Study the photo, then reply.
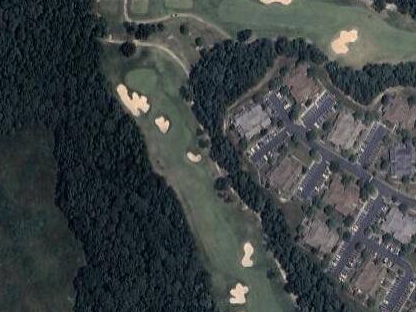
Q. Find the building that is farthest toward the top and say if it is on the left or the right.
right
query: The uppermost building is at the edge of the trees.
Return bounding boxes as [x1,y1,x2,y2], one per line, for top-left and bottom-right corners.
[278,65,324,106]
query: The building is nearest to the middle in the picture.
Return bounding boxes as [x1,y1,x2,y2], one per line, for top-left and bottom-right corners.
[233,104,271,140]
